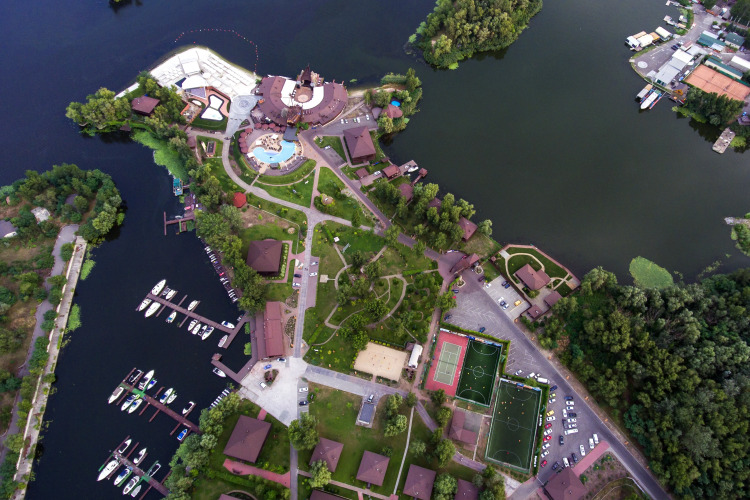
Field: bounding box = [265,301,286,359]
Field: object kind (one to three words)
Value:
building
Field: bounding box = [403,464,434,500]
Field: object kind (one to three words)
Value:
house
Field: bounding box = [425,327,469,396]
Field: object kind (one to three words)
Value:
tennis court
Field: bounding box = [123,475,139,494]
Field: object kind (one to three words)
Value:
boat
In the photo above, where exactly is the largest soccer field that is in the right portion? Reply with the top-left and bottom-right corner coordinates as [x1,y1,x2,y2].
[486,377,543,474]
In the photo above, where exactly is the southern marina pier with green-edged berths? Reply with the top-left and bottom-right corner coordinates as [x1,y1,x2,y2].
[99,436,163,500]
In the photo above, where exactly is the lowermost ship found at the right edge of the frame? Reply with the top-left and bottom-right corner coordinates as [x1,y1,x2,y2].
[712,127,736,154]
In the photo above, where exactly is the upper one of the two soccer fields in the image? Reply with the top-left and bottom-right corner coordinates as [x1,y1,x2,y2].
[456,336,503,406]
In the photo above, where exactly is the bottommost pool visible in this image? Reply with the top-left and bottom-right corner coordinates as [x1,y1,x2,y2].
[249,132,304,173]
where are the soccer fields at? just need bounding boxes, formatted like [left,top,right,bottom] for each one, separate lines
[456,336,503,406]
[486,377,543,474]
